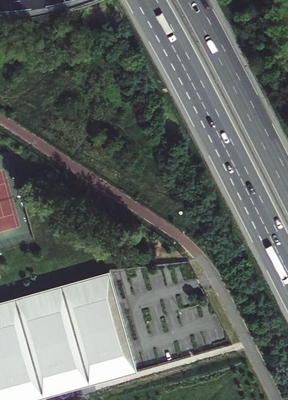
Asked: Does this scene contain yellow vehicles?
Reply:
No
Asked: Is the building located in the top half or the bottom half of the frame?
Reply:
bottom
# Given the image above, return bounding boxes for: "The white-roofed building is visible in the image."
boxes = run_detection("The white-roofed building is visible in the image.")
[0,272,136,400]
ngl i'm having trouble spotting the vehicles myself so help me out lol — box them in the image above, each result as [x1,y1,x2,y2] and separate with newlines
[274,218,283,230]
[272,234,280,246]
[225,162,234,175]
[191,2,200,14]
[200,0,210,10]
[206,116,215,129]
[246,182,254,195]
[165,350,171,362]
[266,245,288,285]
[220,132,230,144]
[158,13,178,44]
